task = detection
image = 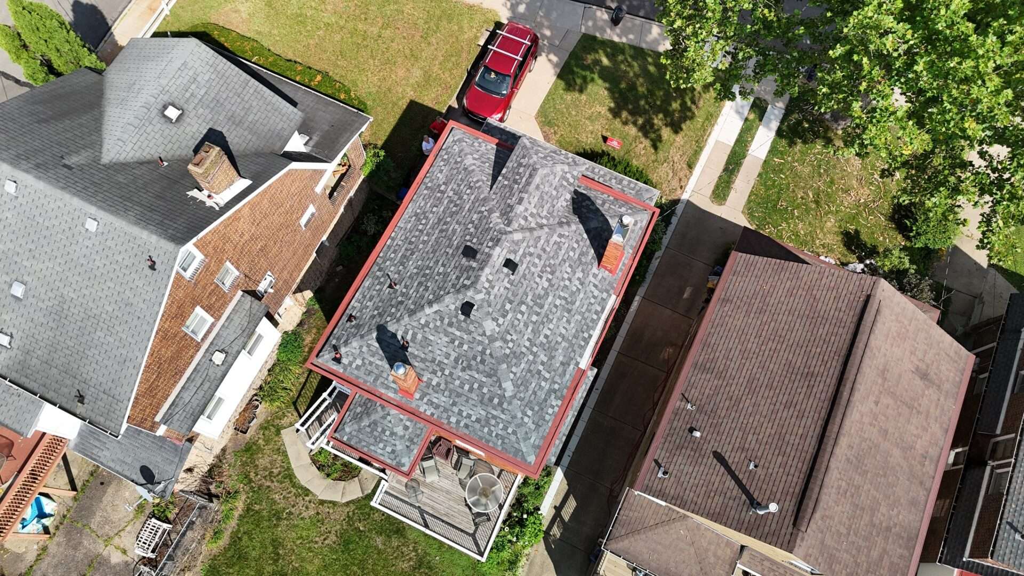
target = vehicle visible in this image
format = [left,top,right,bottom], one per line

[459,18,546,123]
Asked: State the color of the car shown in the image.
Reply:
red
